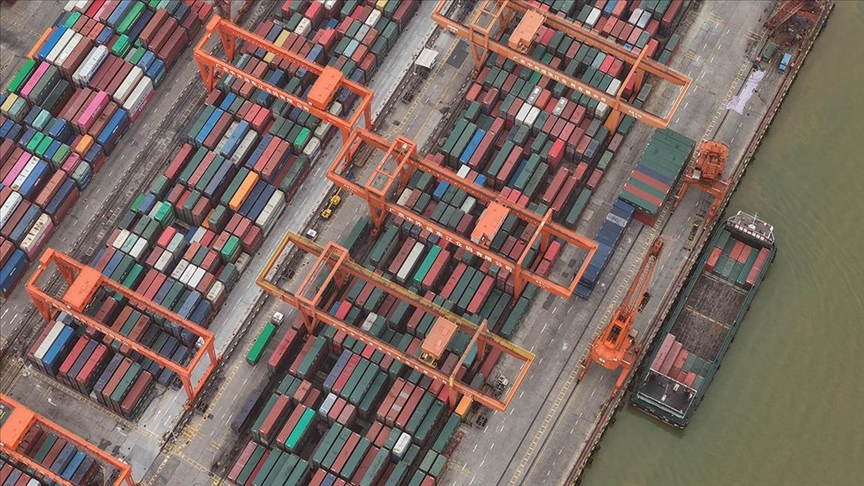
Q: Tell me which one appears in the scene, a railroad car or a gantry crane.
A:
gantry crane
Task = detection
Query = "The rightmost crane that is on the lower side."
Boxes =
[575,233,672,401]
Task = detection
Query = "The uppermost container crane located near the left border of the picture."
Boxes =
[23,246,224,407]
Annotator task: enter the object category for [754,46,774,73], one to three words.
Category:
vehicle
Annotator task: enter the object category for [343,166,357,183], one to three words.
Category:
work vehicle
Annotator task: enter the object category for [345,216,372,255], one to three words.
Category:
shipping container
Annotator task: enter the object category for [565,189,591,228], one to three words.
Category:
shipping container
